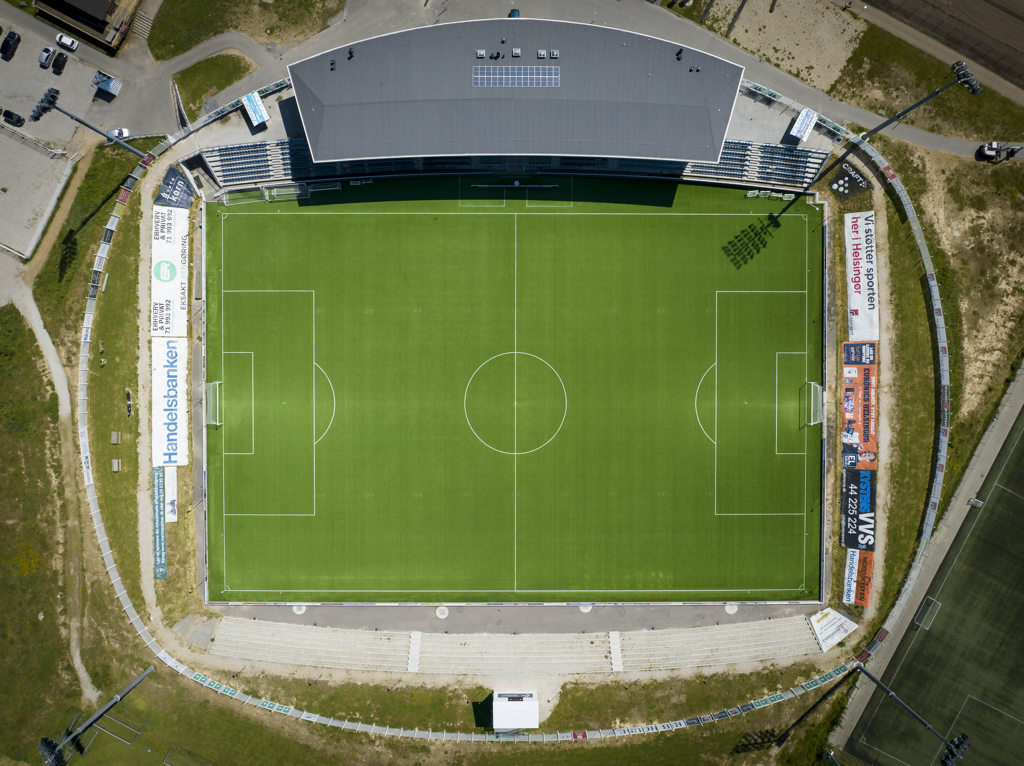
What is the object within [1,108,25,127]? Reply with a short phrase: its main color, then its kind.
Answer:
black car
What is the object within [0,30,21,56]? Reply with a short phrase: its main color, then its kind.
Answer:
black car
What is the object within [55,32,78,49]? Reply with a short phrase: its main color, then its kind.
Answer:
white car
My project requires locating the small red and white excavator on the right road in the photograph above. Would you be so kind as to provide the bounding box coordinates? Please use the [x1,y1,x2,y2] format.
[980,142,1023,159]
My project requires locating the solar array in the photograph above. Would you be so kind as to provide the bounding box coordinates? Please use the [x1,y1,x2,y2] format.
[473,66,560,86]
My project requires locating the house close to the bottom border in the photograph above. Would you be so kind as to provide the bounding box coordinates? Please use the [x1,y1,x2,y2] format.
[493,691,539,741]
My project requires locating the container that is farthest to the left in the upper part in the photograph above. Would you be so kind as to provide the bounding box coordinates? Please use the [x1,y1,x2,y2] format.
[91,70,129,99]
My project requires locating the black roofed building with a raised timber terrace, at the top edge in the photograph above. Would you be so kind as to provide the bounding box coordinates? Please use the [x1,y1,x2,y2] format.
[26,0,151,53]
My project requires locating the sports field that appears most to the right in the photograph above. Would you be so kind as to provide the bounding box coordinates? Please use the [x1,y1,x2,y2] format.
[843,408,1024,766]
